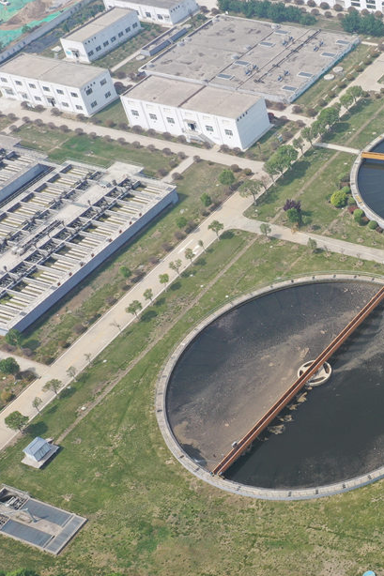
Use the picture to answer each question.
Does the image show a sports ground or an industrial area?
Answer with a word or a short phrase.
industrial area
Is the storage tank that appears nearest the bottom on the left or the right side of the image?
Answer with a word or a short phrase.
right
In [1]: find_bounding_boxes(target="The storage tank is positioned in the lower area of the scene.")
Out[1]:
[155,271,384,500]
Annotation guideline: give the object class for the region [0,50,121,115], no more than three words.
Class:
building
